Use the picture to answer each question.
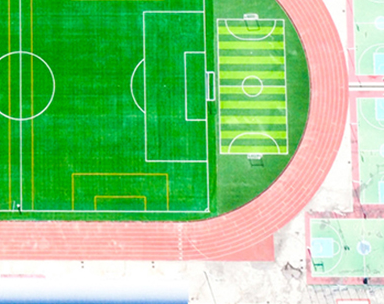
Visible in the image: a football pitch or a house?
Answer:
football pitch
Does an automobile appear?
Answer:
No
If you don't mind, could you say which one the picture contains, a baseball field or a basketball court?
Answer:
basketball court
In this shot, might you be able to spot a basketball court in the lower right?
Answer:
Yes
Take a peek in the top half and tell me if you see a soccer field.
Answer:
Yes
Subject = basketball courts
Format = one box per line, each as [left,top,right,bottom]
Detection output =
[350,90,384,210]
[305,210,384,284]
[346,0,384,83]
